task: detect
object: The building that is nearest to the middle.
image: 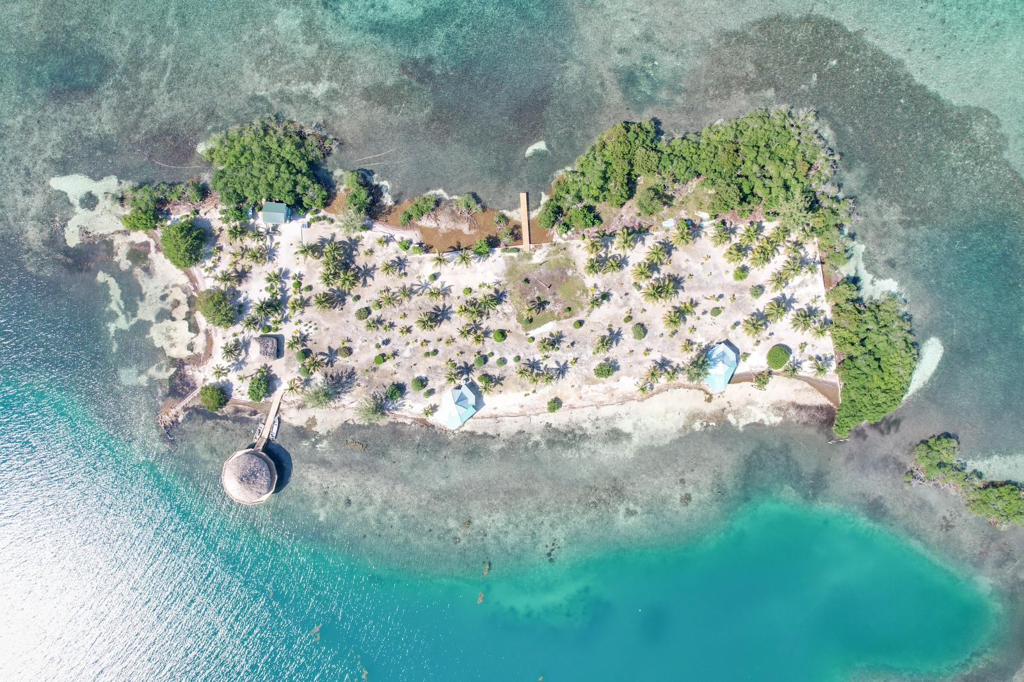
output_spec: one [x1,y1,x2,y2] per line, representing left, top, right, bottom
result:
[444,385,476,429]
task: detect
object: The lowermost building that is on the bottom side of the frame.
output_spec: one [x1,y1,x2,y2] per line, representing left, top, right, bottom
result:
[220,448,279,505]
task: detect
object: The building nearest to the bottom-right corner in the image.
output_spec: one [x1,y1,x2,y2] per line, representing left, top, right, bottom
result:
[704,343,737,391]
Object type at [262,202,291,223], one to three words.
shed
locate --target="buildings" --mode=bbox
[444,385,476,429]
[249,336,278,363]
[220,448,279,505]
[704,343,737,391]
[262,202,291,223]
